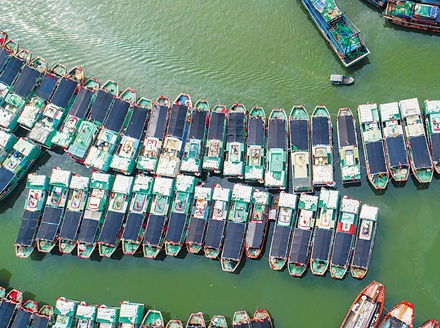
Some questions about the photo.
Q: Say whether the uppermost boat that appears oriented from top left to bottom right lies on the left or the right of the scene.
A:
right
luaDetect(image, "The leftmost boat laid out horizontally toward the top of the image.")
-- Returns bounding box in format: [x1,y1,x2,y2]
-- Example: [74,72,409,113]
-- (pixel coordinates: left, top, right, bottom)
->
[328,71,355,86]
